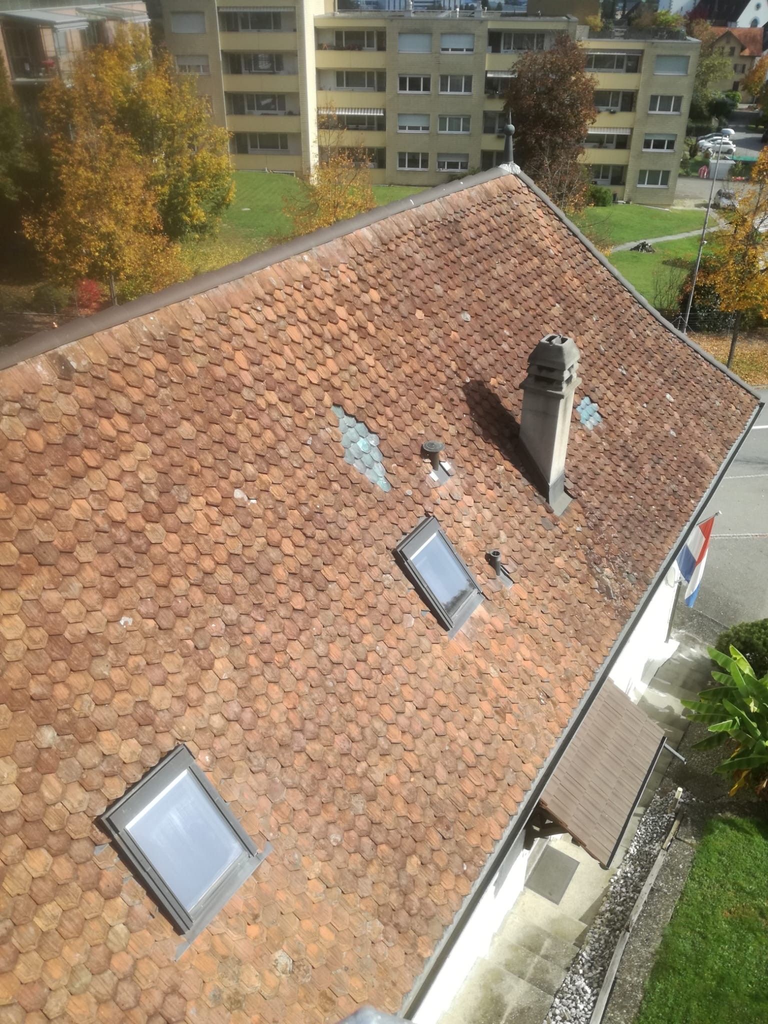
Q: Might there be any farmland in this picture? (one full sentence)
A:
No, the scene doesn't show any farmland.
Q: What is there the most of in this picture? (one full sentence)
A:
For the most part, this view shows buildings.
